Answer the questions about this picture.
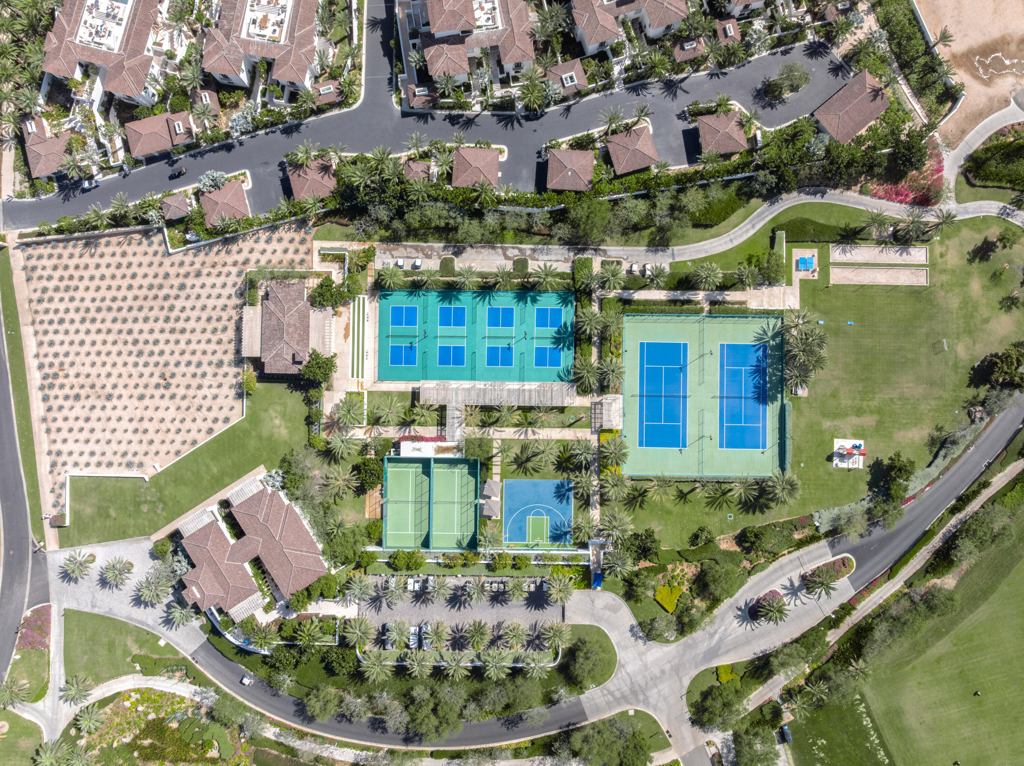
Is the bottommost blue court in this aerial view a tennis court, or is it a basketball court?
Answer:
basketball court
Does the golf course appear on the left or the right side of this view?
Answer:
right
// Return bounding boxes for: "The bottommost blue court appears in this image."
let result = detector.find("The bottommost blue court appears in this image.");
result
[503,479,574,549]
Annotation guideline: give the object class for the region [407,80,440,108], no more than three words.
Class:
shed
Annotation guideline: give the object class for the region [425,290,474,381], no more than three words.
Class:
sports court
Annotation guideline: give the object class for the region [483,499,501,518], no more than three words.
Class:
umbrella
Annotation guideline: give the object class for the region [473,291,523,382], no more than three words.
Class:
sports court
